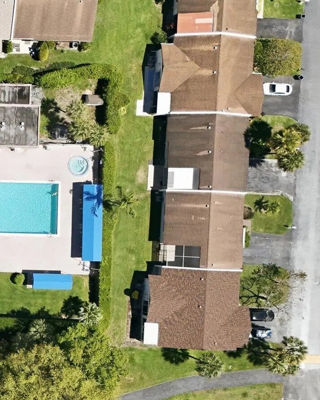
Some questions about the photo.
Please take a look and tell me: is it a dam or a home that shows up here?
home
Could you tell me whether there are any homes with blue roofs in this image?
No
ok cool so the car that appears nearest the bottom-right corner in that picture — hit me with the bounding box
[249,325,273,339]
